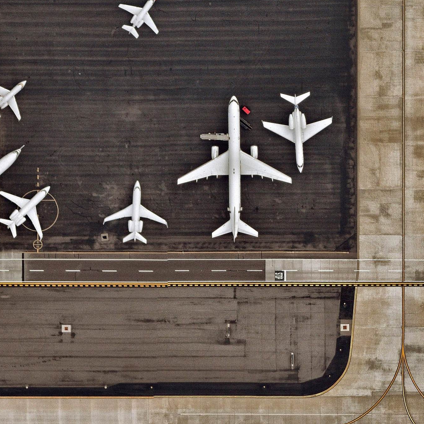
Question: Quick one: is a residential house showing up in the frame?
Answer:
No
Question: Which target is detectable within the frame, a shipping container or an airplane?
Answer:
airplane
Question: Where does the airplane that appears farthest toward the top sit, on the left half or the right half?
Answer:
left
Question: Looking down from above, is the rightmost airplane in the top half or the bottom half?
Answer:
top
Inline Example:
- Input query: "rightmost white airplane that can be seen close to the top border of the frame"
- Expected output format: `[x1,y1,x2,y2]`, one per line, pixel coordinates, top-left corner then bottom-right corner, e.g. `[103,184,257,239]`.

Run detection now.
[118,0,158,38]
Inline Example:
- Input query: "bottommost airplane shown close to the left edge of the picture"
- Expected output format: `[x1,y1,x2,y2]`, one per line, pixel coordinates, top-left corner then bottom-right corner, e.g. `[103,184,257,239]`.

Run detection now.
[0,187,50,241]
